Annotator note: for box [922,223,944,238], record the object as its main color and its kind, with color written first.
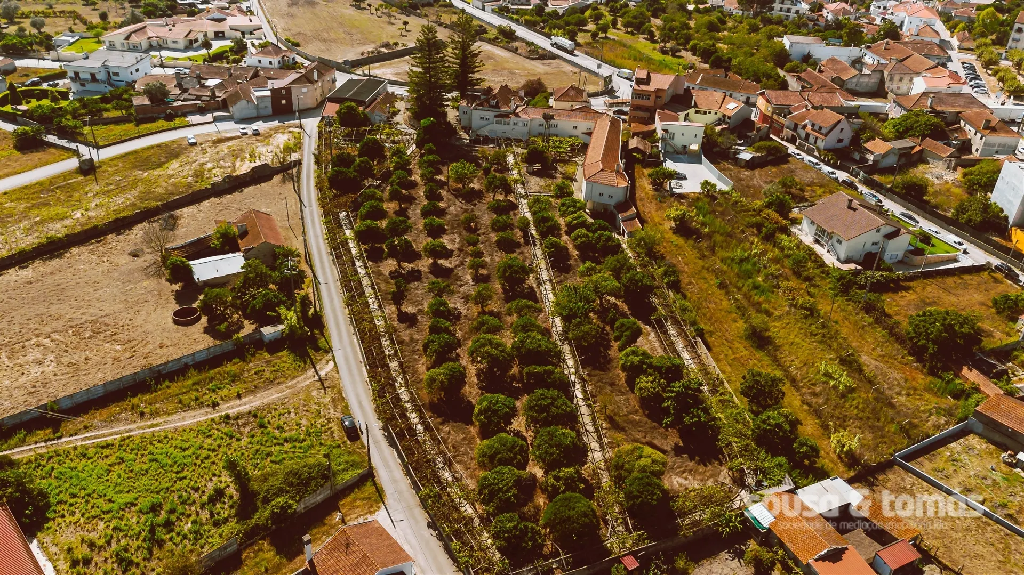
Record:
white car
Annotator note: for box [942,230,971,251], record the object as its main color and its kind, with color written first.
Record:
white vehicle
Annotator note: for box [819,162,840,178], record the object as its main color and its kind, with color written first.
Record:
white vehicle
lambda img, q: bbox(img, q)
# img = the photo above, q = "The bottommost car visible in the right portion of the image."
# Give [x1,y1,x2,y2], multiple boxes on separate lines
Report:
[992,263,1022,281]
